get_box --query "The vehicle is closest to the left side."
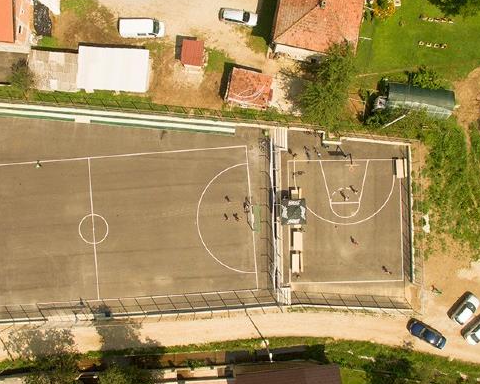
[120,17,165,39]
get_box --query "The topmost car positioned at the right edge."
[450,292,480,326]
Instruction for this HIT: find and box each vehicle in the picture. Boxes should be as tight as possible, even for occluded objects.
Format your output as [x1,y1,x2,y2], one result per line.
[220,8,258,27]
[450,292,480,326]
[120,17,165,39]
[408,319,446,348]
[464,318,480,347]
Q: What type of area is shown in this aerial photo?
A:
sports ground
